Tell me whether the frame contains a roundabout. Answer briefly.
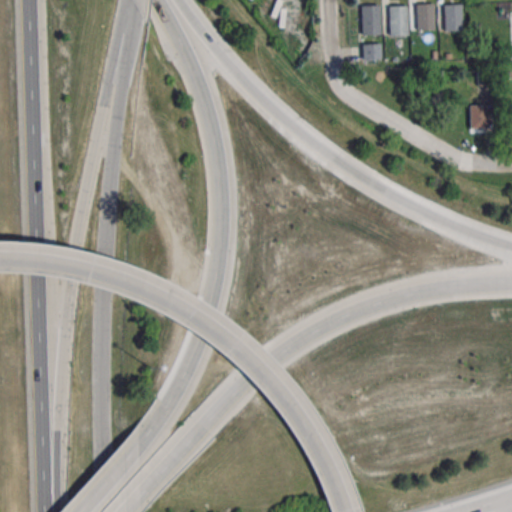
No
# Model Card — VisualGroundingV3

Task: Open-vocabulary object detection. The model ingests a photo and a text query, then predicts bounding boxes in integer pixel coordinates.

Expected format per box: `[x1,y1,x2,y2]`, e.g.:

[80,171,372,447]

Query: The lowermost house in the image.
[469,106,488,132]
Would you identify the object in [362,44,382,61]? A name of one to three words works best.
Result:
building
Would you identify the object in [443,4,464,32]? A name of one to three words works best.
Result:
house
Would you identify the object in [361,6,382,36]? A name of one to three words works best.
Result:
house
